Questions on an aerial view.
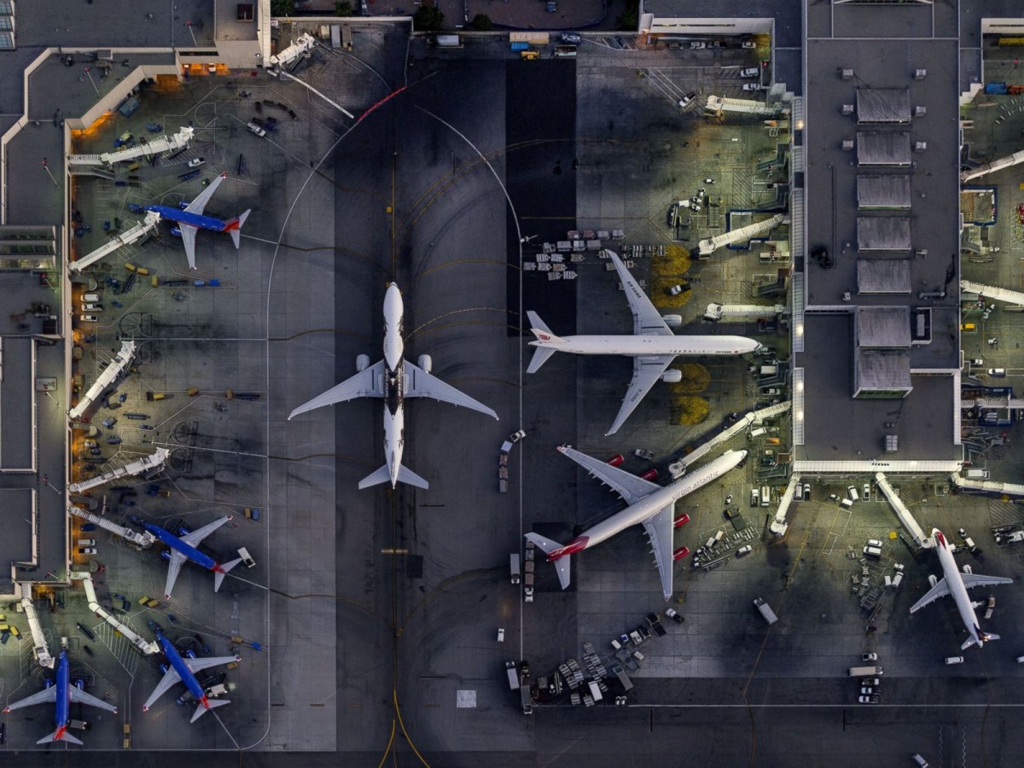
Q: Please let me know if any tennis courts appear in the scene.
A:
No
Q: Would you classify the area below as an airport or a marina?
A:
airport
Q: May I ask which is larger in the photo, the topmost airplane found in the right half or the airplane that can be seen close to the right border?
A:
the topmost airplane found in the right half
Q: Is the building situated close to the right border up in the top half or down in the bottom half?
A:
top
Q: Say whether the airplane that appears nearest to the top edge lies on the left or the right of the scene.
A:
left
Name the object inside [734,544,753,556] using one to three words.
vehicle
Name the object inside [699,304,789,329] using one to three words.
jet bridge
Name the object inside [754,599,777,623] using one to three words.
truck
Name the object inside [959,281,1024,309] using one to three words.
jet bridge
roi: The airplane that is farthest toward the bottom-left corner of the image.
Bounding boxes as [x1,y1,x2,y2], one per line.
[0,651,116,745]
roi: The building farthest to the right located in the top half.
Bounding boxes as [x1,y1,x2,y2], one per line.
[636,0,1024,473]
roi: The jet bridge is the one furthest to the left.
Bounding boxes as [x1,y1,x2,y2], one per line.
[21,583,59,670]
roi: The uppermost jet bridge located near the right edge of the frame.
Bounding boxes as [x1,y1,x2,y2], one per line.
[959,150,1024,188]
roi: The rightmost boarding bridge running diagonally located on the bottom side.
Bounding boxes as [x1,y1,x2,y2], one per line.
[870,473,936,550]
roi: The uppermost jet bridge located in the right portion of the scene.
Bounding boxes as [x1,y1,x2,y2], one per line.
[699,97,789,129]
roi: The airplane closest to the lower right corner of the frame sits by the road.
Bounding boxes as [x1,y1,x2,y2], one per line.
[911,528,1014,649]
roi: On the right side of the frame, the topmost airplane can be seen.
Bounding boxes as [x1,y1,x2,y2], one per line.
[527,250,760,436]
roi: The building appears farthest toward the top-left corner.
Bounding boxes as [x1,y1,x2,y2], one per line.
[0,0,273,598]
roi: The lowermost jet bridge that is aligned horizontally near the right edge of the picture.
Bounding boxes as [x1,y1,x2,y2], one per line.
[943,473,1024,497]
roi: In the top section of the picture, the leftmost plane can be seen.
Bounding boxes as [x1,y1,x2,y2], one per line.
[147,170,251,269]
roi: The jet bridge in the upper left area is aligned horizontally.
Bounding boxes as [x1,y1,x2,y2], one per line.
[69,126,201,173]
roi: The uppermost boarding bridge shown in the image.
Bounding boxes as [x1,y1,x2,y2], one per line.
[272,31,319,80]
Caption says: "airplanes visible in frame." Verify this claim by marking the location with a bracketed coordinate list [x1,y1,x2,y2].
[527,250,760,436]
[143,633,242,723]
[145,514,241,599]
[525,446,746,603]
[147,170,251,269]
[911,528,1014,649]
[288,284,498,490]
[0,651,116,745]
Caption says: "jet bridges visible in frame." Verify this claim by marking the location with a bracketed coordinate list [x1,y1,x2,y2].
[69,503,162,549]
[69,335,139,423]
[664,399,789,483]
[943,473,1024,497]
[69,571,167,655]
[699,97,789,129]
[69,204,168,279]
[959,150,1024,188]
[272,31,319,80]
[870,473,936,550]
[69,126,201,173]
[21,583,59,670]
[959,281,1024,309]
[693,212,789,262]
[69,443,177,496]
[962,398,1024,412]
[770,473,804,541]
[699,304,789,329]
